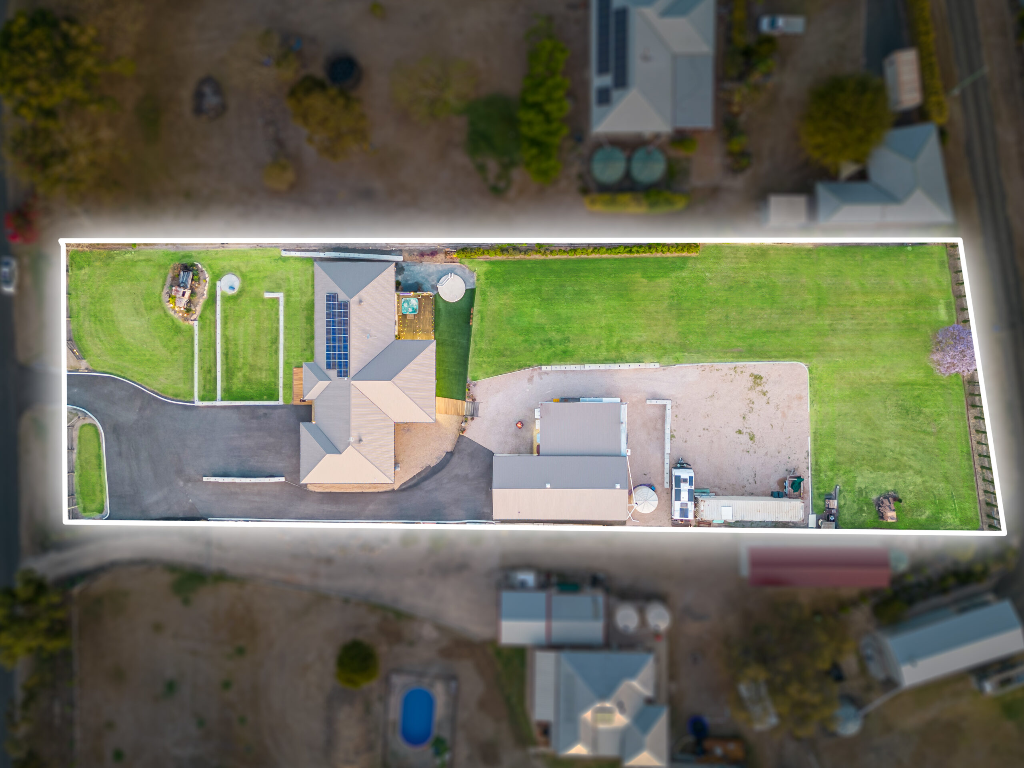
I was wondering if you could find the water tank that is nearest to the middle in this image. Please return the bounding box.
[438,274,466,303]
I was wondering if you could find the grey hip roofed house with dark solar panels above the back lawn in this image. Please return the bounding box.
[591,0,715,136]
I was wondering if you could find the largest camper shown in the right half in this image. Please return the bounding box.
[668,455,694,519]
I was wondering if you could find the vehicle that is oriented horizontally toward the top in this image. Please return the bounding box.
[758,15,804,36]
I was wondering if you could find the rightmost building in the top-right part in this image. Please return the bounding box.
[810,181,951,228]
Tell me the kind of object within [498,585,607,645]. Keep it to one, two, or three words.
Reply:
shed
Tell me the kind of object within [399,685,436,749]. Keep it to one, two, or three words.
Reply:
swimming pool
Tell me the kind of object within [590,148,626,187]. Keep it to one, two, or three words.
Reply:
water tank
